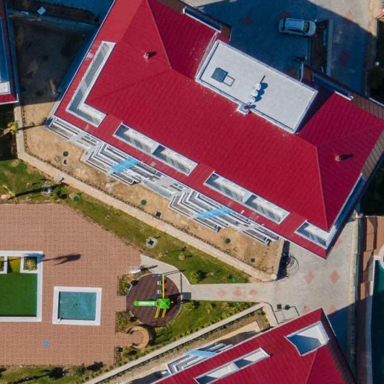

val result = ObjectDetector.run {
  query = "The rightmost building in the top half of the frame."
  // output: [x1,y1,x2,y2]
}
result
[42,0,384,261]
